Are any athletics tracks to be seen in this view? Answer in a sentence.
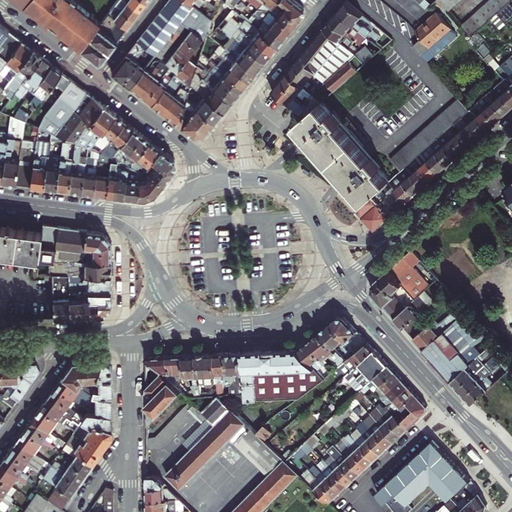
No, the frame has no athletics track in it.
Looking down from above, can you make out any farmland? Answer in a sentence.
No, the scene doesn't show any farmland.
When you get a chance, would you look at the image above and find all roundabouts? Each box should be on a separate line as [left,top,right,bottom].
[104,148,369,348]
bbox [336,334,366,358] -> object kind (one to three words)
shed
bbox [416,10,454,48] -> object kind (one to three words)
house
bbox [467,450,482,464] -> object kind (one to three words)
vehicle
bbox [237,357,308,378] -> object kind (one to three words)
building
